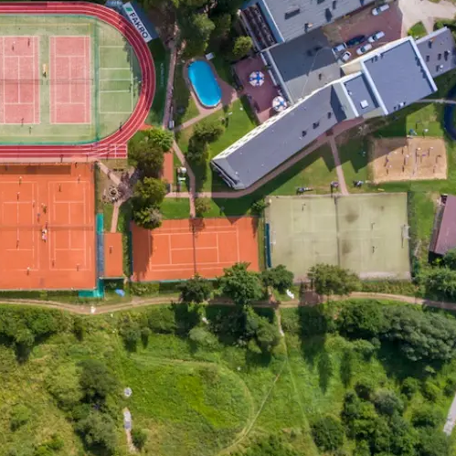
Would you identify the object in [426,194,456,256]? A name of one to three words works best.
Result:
building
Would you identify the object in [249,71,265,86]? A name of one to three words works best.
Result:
umbrella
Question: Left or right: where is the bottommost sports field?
right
